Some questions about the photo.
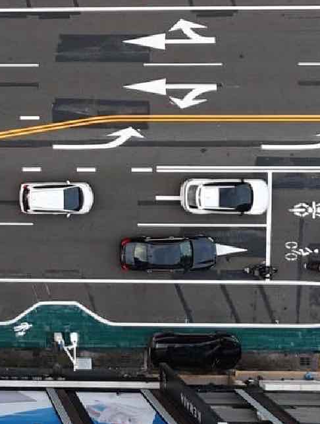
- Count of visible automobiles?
4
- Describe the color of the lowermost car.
black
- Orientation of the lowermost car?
from side to side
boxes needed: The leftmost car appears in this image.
[20,180,93,218]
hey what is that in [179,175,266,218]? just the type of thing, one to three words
car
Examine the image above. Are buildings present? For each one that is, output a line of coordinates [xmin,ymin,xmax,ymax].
[0,370,201,424]
[194,378,320,424]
